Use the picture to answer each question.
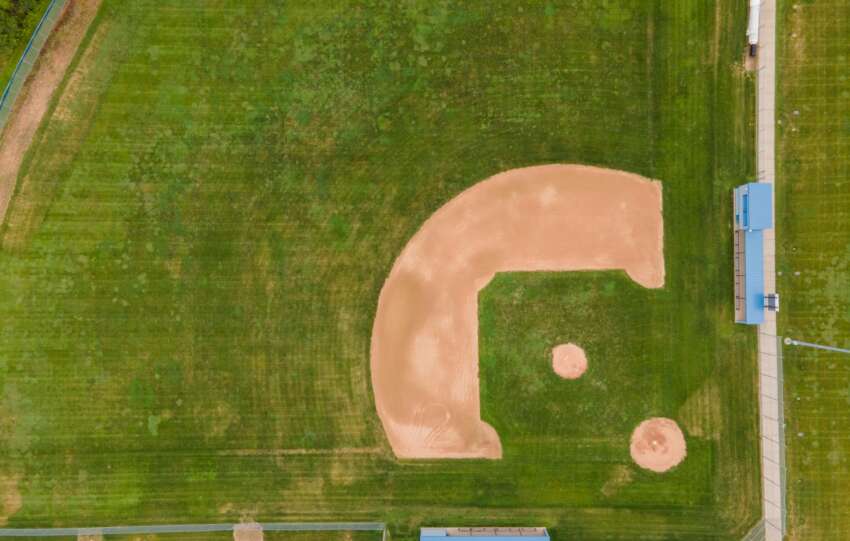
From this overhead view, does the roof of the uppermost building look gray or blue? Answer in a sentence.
The roof of the uppermost building looks blue in the image.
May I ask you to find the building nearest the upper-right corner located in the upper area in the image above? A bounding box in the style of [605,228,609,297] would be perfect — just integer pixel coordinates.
[735,183,773,232]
